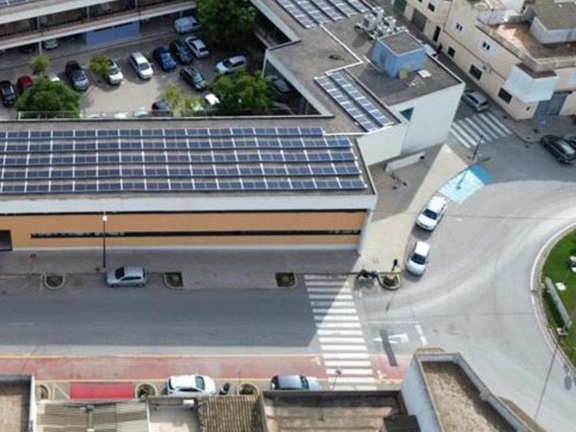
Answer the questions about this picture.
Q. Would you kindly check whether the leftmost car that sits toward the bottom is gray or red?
gray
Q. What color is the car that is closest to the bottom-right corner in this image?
white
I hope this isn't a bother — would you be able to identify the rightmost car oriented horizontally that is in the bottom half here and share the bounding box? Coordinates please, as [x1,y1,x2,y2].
[269,370,324,391]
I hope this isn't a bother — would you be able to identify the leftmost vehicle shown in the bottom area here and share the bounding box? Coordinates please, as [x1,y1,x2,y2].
[102,261,153,288]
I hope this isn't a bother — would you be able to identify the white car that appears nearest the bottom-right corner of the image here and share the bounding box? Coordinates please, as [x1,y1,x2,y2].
[403,239,435,279]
